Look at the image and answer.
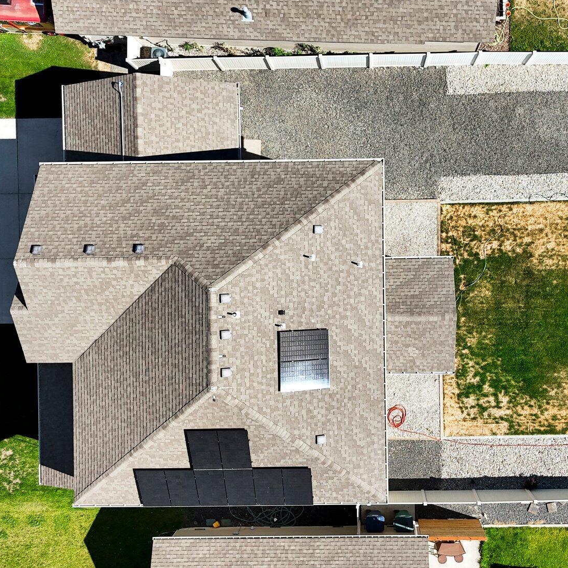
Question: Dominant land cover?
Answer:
buildings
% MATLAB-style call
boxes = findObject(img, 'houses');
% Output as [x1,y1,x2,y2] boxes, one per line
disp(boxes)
[10,72,457,509]
[149,526,430,568]
[49,0,496,48]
